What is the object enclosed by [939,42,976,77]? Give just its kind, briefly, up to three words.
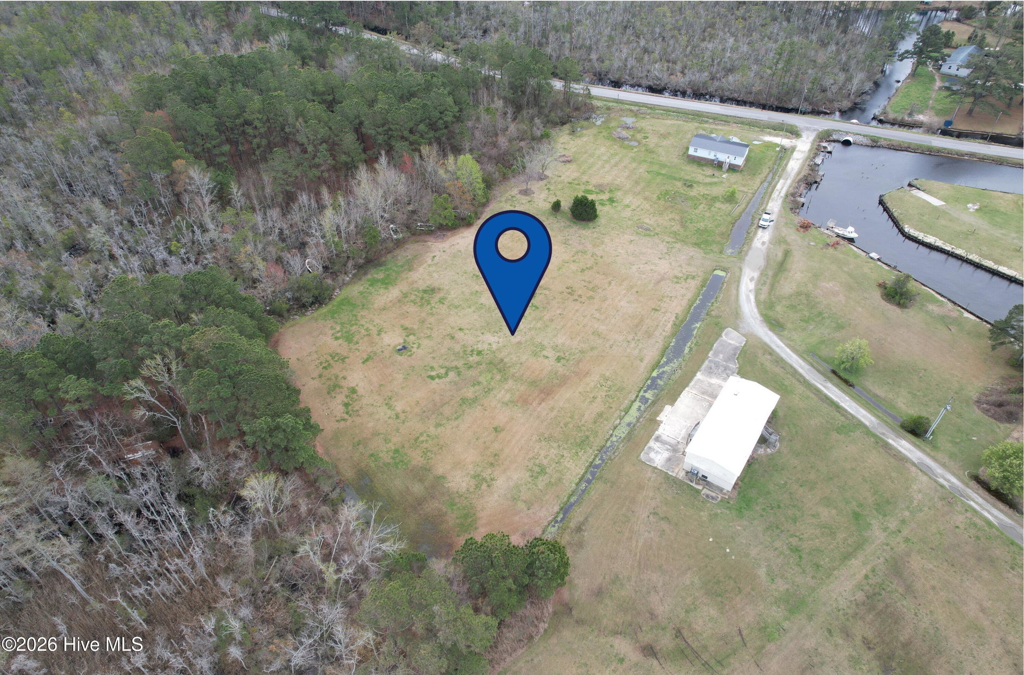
house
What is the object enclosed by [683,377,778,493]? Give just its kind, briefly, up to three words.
building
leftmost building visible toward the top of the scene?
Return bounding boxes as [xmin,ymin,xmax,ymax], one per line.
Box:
[688,133,751,169]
